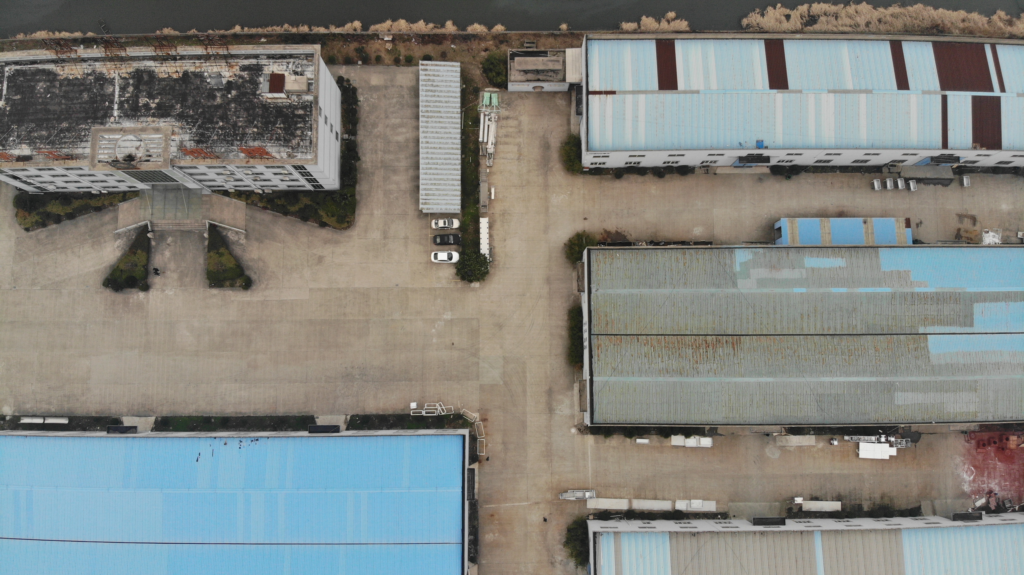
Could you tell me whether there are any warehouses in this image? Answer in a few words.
Yes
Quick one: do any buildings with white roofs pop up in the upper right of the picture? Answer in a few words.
Yes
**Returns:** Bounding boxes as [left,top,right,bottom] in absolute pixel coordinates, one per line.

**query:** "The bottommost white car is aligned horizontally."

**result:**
[431,250,459,263]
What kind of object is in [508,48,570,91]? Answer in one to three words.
building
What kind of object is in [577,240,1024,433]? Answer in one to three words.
warehouse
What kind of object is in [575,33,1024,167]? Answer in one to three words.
warehouse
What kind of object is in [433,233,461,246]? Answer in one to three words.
vehicle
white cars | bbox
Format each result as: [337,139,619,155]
[431,218,460,231]
[431,250,459,263]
